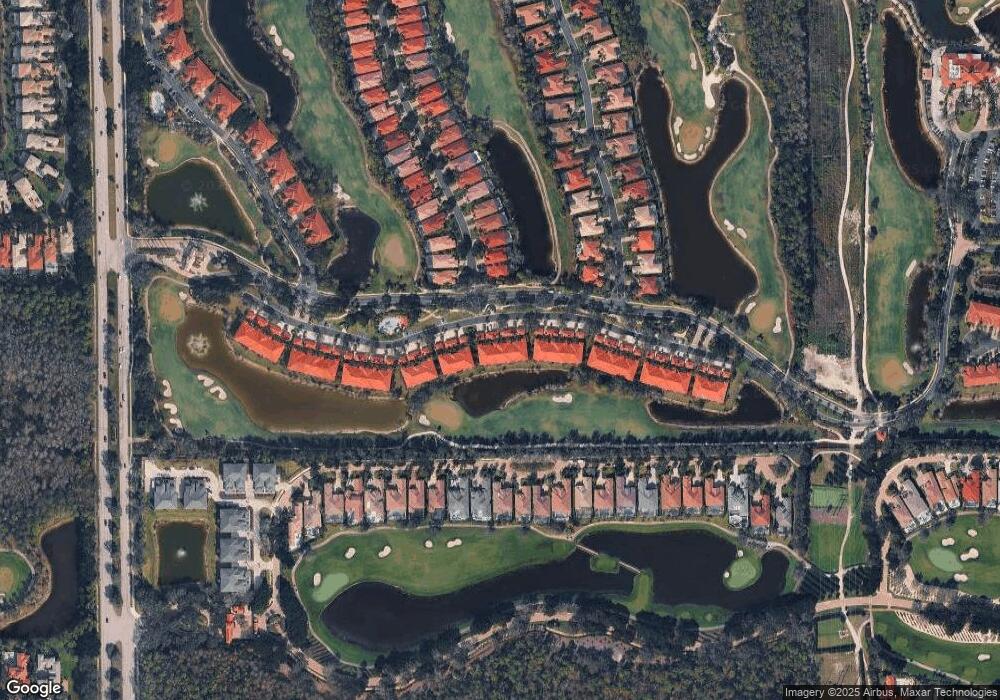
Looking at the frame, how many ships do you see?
zero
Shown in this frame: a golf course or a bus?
golf course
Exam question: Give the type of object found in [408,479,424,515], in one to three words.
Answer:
house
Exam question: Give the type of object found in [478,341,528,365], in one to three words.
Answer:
building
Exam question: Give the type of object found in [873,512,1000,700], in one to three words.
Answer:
golf course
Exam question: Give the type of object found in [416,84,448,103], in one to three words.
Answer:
house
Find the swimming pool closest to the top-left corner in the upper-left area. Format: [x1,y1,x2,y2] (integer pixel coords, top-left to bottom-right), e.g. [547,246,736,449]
[149,94,165,113]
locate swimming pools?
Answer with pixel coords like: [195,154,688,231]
[149,94,165,113]
[378,315,401,335]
